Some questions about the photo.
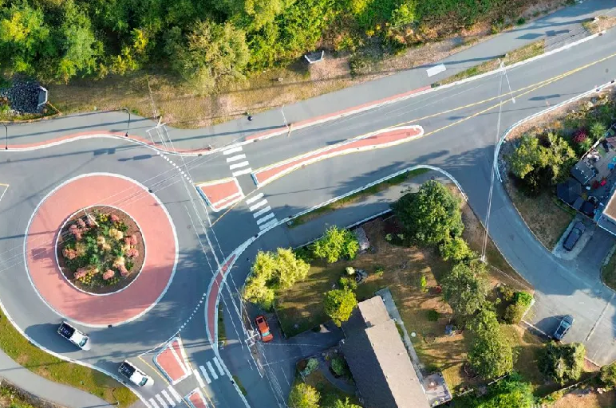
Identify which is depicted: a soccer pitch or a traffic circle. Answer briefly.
traffic circle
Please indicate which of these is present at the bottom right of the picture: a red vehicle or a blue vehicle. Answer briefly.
blue vehicle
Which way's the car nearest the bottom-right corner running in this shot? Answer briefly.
on a diagonal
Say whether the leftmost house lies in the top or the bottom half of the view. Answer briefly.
bottom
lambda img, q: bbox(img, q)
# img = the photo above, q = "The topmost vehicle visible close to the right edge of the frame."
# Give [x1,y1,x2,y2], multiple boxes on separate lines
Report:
[564,221,587,251]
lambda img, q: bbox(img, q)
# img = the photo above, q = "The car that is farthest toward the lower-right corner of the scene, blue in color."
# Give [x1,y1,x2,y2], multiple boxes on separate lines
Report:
[552,314,575,341]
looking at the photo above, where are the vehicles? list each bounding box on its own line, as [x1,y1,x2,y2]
[254,314,272,343]
[564,221,587,251]
[56,320,91,351]
[117,359,153,387]
[552,314,575,341]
